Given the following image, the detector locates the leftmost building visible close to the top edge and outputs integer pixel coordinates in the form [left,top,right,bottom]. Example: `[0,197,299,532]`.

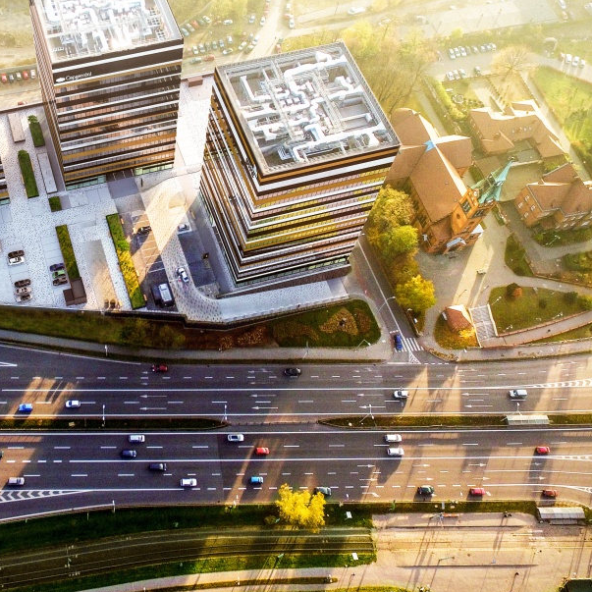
[30,0,183,189]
